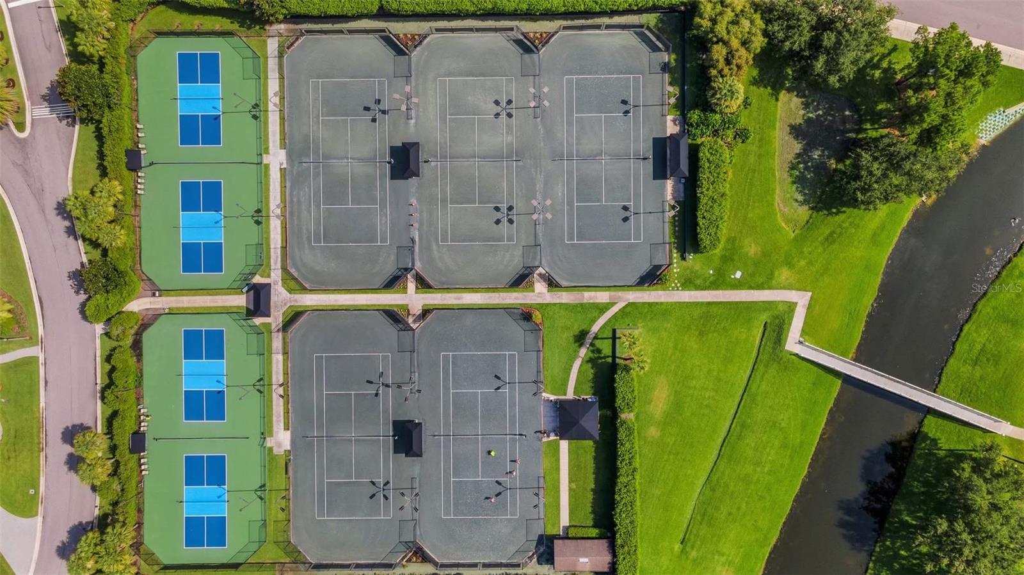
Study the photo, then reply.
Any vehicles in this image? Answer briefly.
No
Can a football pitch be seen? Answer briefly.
No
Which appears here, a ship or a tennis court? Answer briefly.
tennis court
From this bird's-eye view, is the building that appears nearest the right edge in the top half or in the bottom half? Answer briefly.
top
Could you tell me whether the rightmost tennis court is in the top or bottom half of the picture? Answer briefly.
top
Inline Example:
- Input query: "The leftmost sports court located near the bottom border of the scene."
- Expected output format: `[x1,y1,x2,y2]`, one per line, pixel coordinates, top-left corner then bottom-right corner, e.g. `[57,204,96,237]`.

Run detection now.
[143,439,267,564]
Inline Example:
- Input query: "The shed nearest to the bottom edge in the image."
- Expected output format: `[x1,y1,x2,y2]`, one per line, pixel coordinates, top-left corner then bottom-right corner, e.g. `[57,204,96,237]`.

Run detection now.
[554,535,613,572]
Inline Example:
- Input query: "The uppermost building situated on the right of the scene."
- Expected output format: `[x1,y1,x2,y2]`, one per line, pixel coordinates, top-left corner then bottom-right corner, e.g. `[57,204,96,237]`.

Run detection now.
[665,133,689,178]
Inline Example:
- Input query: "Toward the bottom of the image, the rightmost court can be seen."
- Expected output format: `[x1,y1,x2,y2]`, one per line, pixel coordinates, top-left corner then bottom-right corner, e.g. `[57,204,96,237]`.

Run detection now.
[415,307,545,563]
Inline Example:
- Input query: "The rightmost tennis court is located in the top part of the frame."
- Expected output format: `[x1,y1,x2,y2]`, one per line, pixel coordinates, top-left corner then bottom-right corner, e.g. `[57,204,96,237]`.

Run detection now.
[540,29,670,287]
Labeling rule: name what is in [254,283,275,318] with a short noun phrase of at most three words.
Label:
building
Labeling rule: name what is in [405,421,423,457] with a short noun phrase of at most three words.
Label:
building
